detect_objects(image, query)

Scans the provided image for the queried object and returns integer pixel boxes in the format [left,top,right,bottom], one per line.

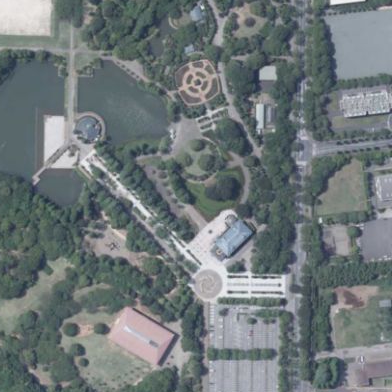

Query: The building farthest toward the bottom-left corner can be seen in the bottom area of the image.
[108,306,179,368]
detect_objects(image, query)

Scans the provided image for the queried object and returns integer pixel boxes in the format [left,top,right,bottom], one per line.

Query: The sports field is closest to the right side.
[328,11,392,80]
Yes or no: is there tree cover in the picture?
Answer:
Yes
